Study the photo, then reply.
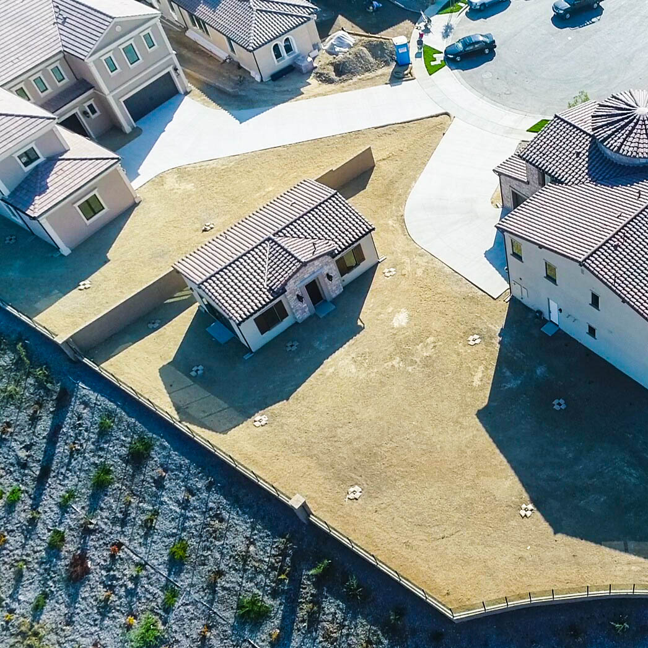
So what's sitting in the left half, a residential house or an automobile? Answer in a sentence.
There is a residential house in the left half.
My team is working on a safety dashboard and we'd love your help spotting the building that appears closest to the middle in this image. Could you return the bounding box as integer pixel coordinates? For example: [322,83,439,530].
[170,179,383,360]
